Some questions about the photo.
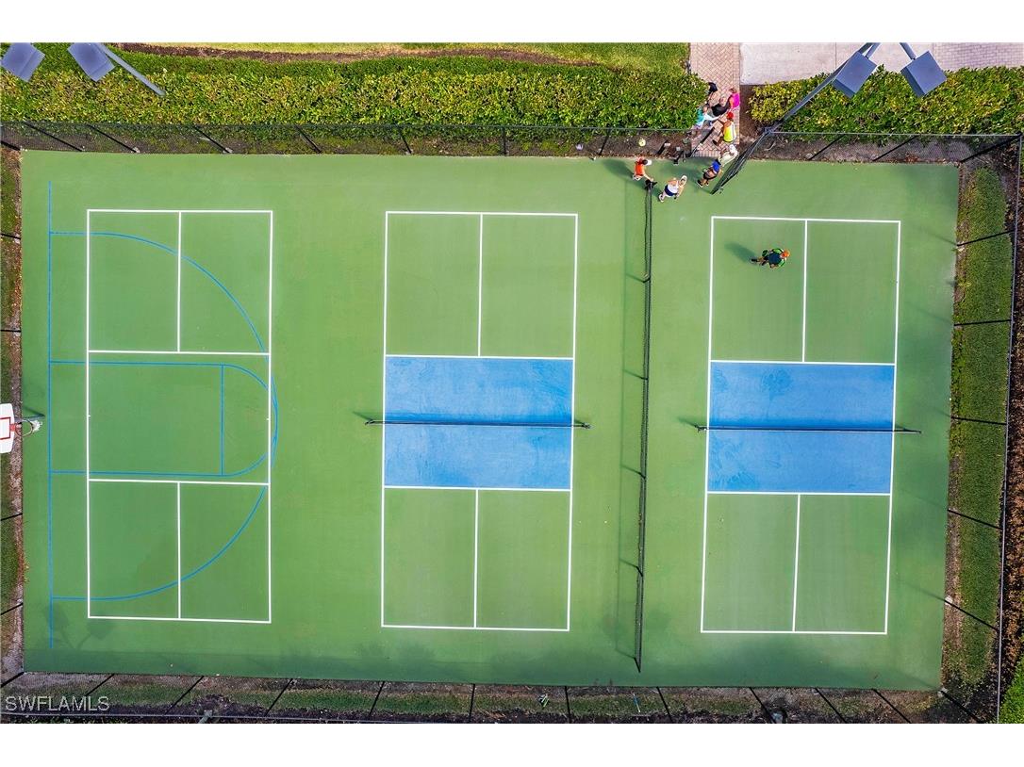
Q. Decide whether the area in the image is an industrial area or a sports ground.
sports ground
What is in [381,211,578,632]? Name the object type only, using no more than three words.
sports court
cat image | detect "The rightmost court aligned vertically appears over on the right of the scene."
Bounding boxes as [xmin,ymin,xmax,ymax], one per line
[700,216,901,636]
